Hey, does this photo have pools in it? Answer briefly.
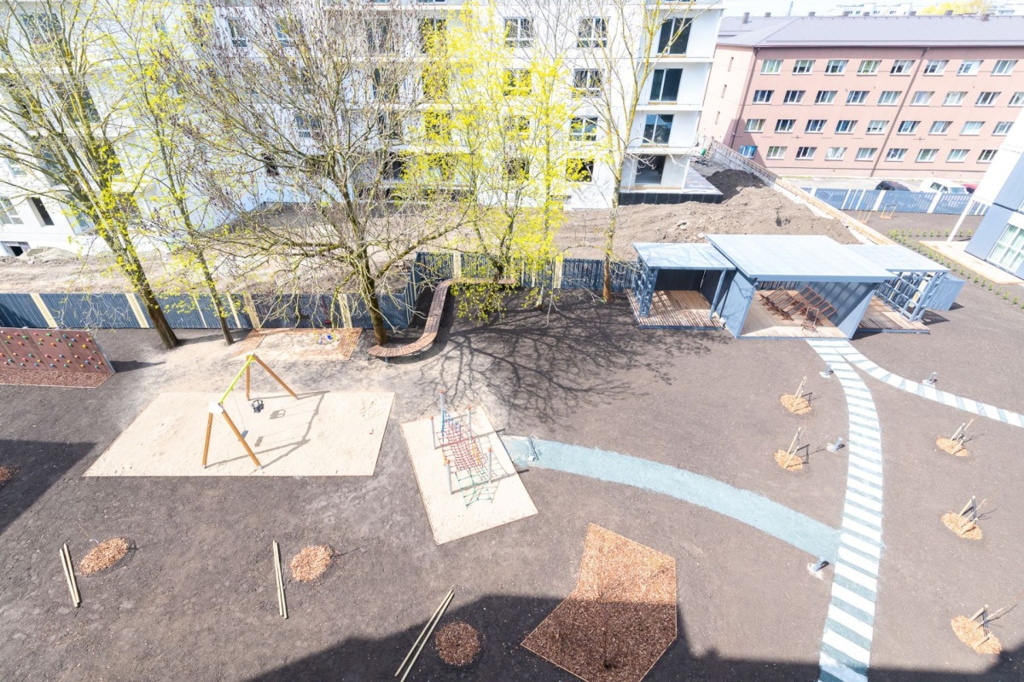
No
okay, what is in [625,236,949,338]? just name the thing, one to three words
building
